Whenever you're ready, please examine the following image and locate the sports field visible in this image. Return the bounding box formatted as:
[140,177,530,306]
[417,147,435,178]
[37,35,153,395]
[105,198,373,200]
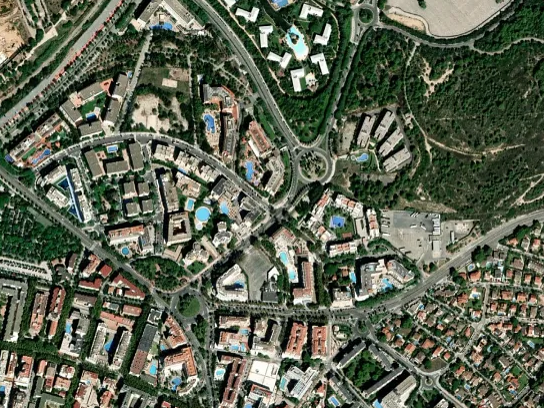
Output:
[141,69,189,86]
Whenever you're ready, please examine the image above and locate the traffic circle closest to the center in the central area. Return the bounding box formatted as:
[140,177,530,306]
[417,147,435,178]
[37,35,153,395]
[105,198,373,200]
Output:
[293,145,336,187]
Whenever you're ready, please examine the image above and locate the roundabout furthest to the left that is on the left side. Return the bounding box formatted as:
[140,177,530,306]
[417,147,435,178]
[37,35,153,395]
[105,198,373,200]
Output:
[171,285,208,321]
